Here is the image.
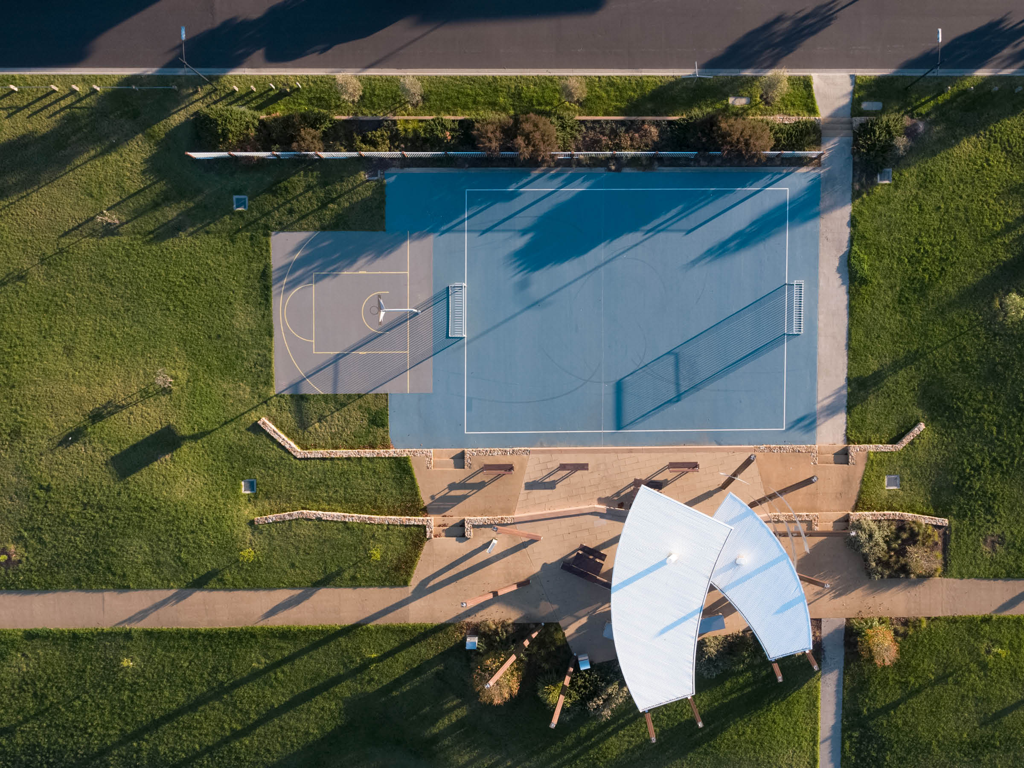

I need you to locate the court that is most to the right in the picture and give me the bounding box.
[385,172,820,448]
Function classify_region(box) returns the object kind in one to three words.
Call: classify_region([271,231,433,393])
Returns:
basketball court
